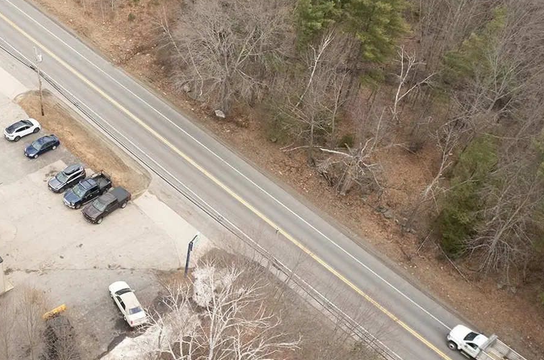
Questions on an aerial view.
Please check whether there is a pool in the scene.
No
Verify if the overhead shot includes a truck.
Yes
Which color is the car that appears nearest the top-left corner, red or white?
white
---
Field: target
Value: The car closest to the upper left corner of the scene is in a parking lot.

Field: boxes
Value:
[2,117,43,141]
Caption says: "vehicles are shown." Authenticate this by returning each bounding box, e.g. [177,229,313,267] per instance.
[23,133,64,158]
[44,161,86,193]
[61,169,114,209]
[82,185,132,223]
[110,279,149,328]
[2,117,43,141]
[443,325,524,360]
